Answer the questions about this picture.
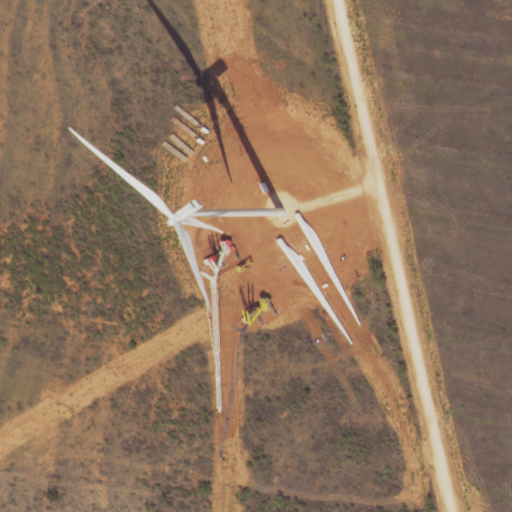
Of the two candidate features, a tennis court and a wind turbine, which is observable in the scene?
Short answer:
wind turbine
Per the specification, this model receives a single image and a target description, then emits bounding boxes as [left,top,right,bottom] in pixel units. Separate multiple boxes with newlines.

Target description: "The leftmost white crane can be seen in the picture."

[202,232,241,412]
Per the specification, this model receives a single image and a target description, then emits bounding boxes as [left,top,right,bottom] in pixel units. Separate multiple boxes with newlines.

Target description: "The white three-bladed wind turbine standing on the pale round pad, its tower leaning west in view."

[71,127,290,312]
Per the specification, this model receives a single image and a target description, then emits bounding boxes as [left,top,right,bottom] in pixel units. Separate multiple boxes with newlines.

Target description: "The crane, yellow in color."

[220,288,278,453]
